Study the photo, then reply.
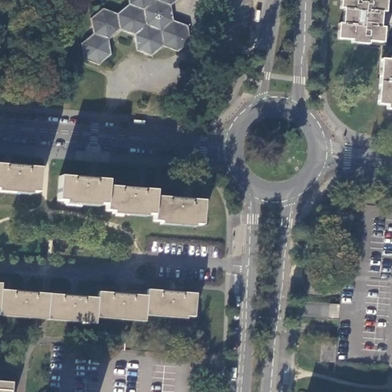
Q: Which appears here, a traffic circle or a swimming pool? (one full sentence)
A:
Looking from above, you can make out a traffic circle.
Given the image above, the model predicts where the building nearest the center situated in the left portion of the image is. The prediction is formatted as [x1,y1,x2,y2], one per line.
[57,174,210,232]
